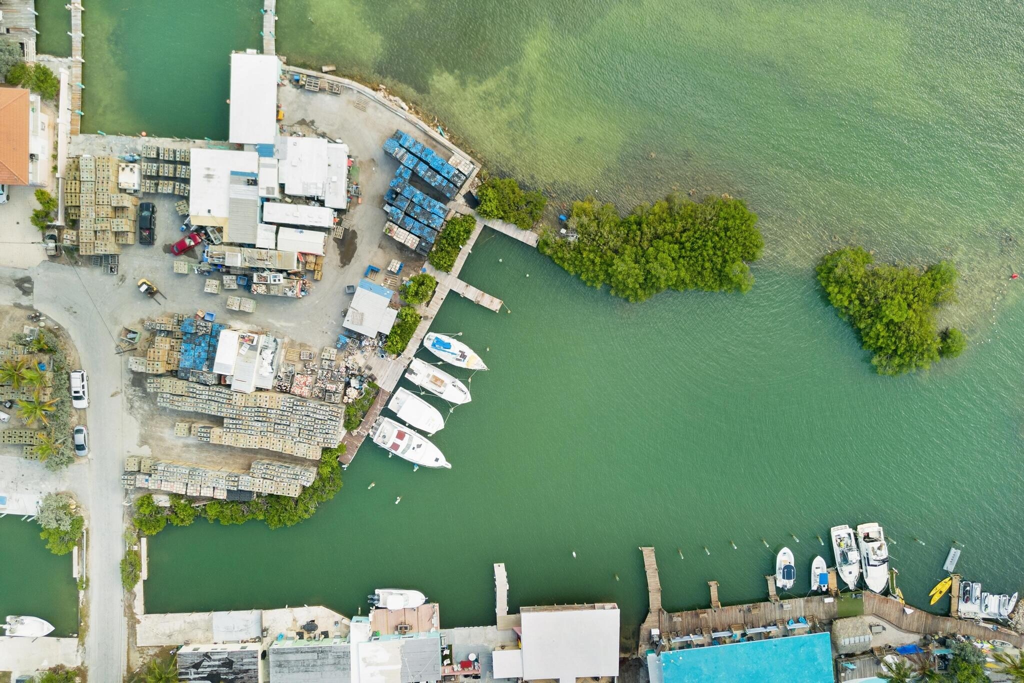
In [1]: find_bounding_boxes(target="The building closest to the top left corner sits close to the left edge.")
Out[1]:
[0,86,44,187]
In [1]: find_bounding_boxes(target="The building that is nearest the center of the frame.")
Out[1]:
[343,279,399,338]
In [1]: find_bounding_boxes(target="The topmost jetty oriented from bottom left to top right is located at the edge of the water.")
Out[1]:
[365,224,484,394]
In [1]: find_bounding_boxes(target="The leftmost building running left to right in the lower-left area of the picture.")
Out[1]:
[177,642,266,683]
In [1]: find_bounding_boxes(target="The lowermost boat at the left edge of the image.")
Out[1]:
[1,615,60,636]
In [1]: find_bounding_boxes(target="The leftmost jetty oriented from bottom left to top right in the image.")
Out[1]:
[341,389,390,465]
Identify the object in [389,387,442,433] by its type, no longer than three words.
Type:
boat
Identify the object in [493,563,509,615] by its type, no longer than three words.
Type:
pier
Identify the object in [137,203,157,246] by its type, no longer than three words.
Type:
vehicle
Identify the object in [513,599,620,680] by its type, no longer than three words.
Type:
house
